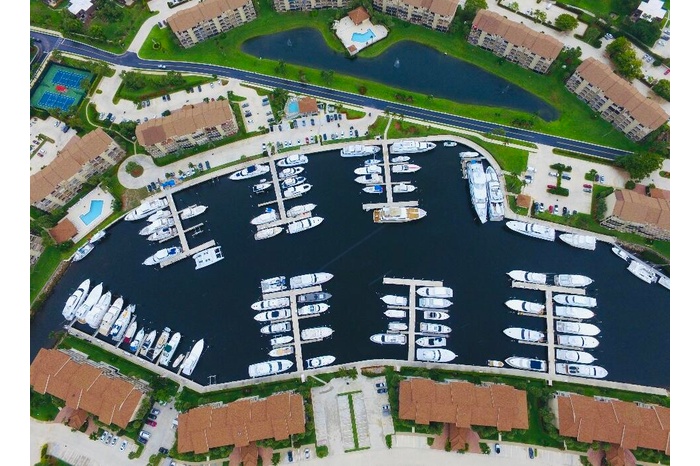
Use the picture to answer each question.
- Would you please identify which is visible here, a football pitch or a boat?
boat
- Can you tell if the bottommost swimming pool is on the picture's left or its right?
left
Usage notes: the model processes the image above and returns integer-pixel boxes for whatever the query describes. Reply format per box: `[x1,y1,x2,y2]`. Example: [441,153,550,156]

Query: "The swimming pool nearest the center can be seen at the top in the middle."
[284,97,304,119]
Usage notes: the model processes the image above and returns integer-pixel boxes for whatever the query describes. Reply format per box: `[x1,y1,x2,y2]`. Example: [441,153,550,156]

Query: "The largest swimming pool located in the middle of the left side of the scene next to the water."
[57,182,114,241]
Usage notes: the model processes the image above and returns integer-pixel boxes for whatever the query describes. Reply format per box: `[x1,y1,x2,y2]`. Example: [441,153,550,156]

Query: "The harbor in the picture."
[0,135,700,396]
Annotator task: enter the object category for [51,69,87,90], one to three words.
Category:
tennis court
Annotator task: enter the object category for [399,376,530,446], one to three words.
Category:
building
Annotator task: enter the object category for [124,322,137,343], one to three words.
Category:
boat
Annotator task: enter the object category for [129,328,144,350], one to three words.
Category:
boat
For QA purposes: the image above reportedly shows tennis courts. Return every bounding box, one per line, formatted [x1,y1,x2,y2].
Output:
[51,69,87,90]
[31,63,92,107]
[37,91,76,111]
